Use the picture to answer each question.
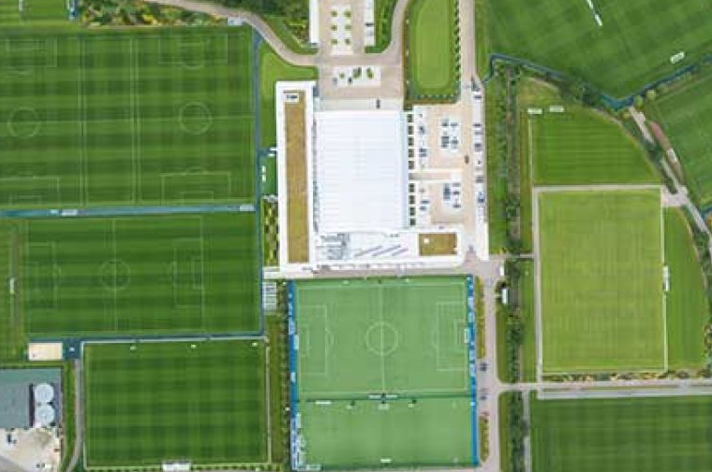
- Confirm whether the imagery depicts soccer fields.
Yes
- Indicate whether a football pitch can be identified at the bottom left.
Yes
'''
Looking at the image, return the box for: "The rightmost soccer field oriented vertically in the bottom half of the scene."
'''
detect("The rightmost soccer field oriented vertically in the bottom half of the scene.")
[666,209,705,370]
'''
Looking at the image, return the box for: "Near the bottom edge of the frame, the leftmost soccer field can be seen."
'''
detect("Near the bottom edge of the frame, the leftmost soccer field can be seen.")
[83,339,267,470]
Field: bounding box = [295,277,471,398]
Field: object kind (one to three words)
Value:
soccer field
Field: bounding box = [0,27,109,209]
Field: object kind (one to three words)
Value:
soccer field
